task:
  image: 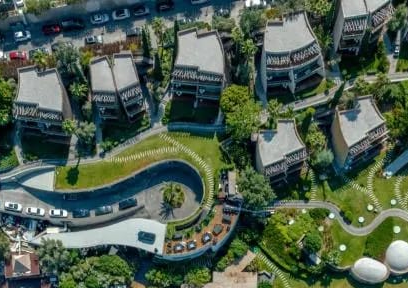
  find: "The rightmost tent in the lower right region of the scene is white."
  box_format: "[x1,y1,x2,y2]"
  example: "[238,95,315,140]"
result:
[382,242,408,274]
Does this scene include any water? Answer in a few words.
No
